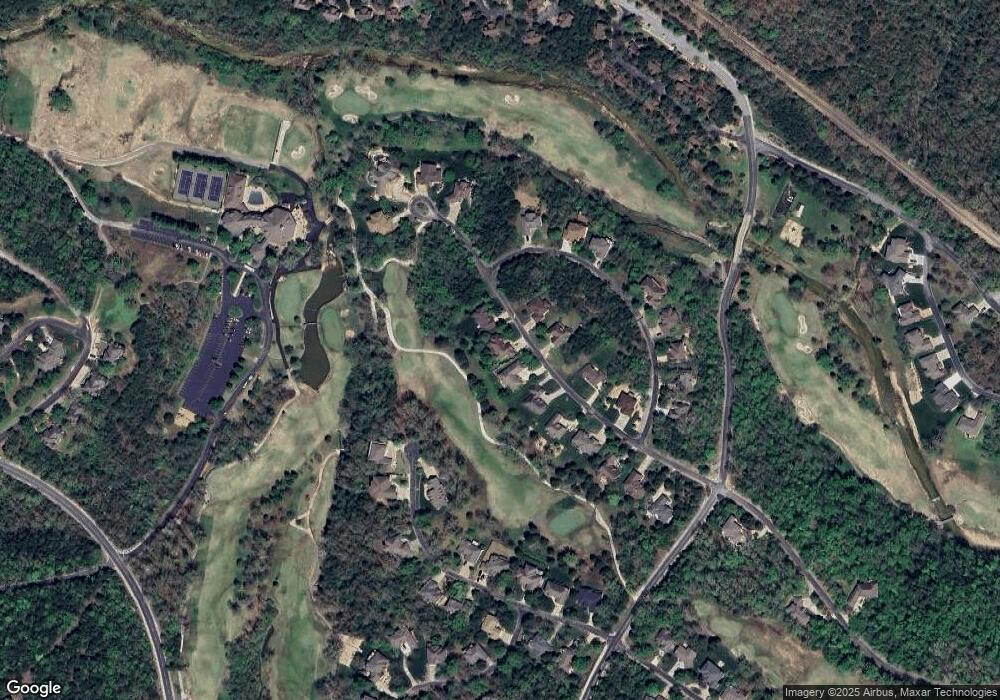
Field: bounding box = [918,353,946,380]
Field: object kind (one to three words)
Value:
house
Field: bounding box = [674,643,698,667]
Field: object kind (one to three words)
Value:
house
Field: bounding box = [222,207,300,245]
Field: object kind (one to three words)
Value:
building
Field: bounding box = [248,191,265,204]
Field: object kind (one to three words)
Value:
swimming pool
